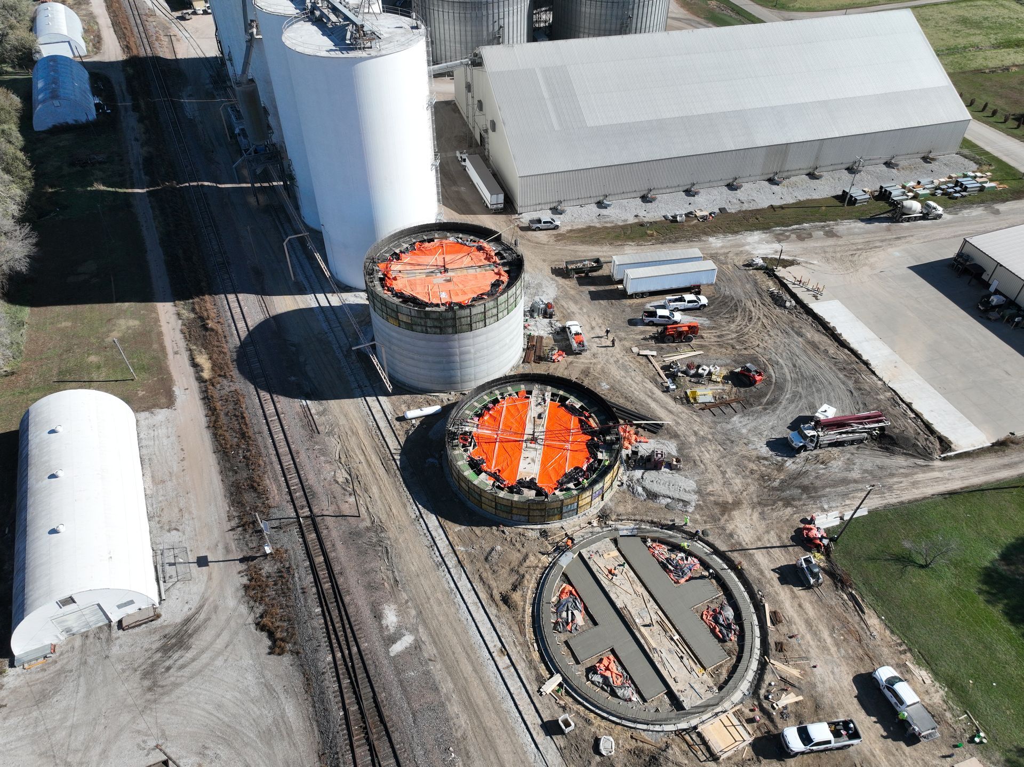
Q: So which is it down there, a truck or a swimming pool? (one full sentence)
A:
Looking from above, you can make out a truck.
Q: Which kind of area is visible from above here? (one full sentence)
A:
The picture captures an industrial area.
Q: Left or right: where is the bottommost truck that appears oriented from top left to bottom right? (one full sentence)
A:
The bottommost truck that appears oriented from top left to bottom right appears in the right half of the scene.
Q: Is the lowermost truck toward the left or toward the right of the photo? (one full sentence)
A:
It is on the right.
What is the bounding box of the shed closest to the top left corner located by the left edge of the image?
[38,4,99,57]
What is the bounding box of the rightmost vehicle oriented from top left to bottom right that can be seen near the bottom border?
[866,661,942,744]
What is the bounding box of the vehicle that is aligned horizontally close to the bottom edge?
[778,721,861,758]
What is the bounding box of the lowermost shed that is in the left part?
[5,394,162,659]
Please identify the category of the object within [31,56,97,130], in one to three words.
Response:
shed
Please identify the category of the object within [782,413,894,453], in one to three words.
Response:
truck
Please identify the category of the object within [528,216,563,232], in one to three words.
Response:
vehicle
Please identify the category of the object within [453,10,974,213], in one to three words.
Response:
building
